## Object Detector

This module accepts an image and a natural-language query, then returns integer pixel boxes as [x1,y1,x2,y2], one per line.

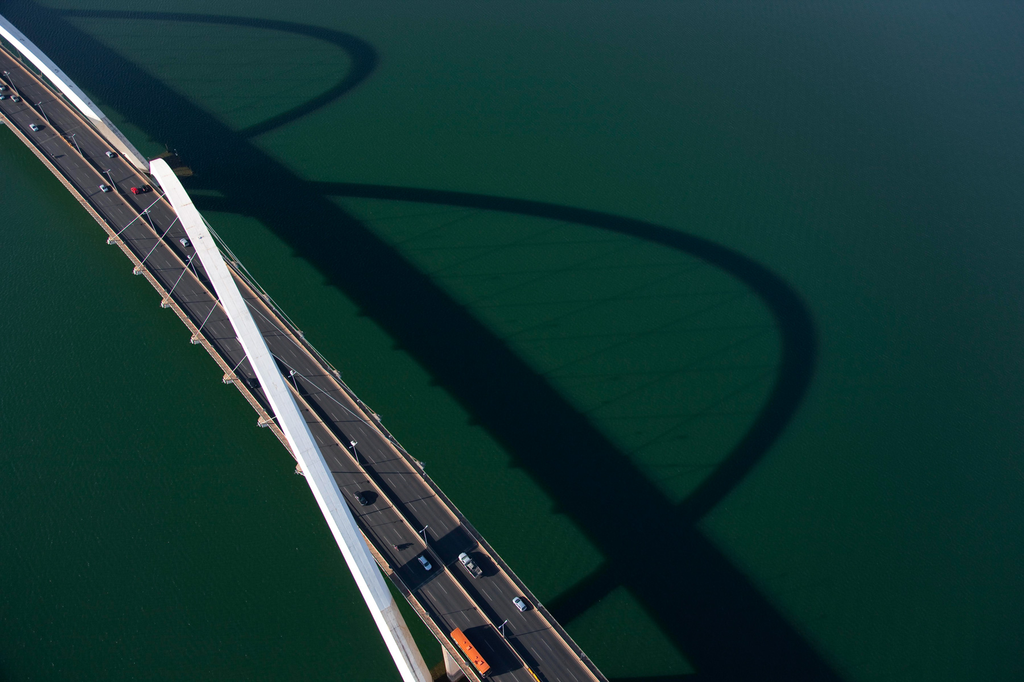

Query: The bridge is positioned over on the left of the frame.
[0,15,610,682]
